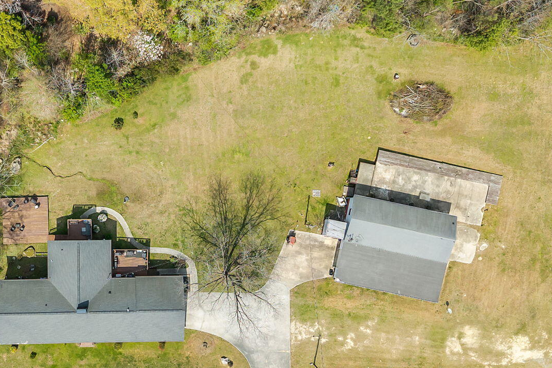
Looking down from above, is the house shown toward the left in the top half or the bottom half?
bottom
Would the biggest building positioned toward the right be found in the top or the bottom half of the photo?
bottom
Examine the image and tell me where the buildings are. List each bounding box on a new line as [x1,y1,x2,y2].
[0,240,187,346]
[332,194,457,303]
